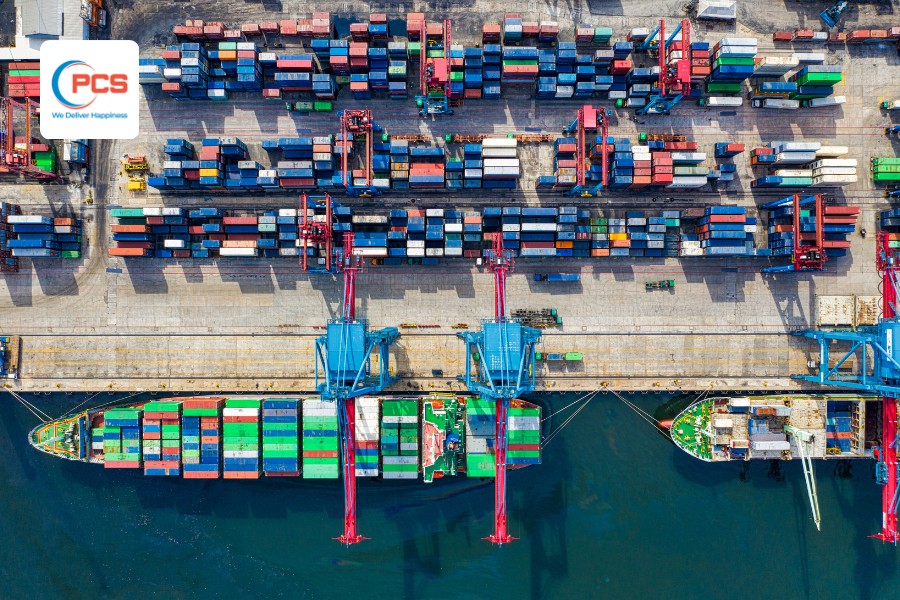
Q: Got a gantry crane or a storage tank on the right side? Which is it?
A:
gantry crane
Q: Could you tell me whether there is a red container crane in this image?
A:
Yes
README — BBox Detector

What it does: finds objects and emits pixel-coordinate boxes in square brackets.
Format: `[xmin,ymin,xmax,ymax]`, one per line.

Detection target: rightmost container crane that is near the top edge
[635,18,693,113]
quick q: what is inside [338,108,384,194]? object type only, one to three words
container crane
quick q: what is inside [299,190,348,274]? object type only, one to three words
container crane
